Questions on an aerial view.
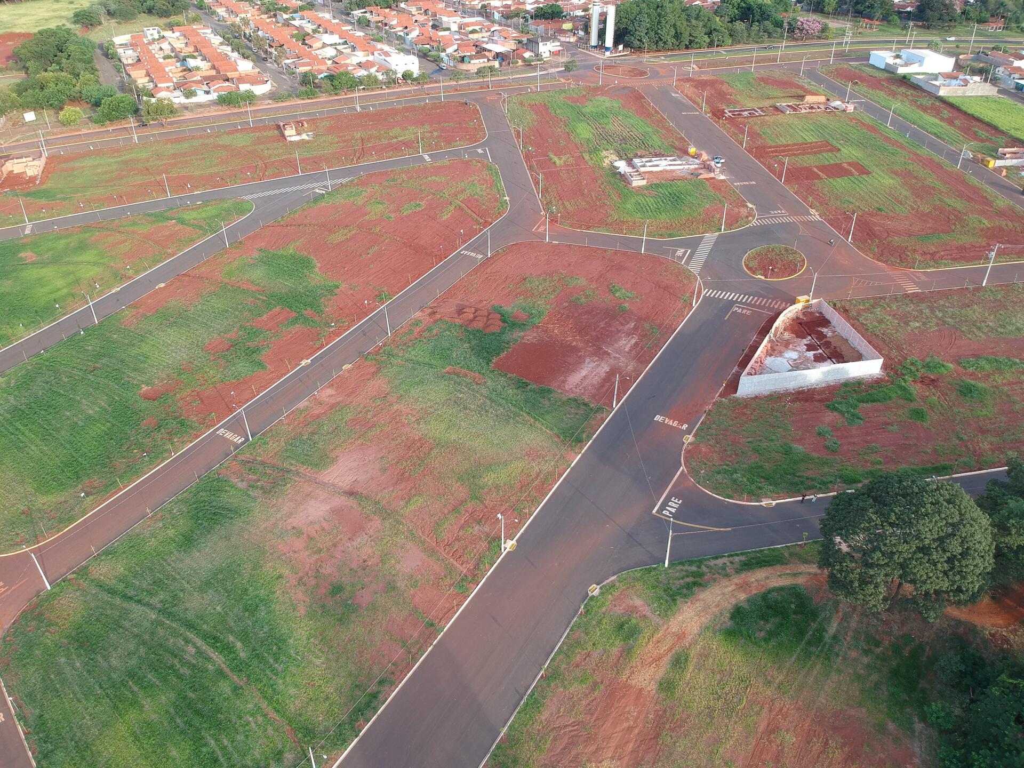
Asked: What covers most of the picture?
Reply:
paved ground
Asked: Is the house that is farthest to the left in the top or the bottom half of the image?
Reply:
top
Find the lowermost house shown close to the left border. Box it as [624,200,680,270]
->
[1,157,44,185]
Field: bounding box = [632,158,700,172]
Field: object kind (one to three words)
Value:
house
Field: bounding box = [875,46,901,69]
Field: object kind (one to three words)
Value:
building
